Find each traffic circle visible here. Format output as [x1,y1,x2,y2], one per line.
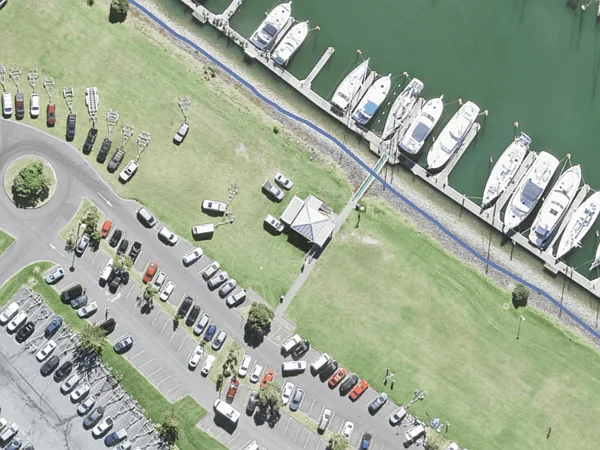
[3,155,57,209]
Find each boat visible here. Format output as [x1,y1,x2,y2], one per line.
[380,77,425,142]
[480,137,530,211]
[527,162,582,251]
[330,57,371,112]
[350,71,392,126]
[427,97,483,172]
[399,93,445,157]
[555,182,600,260]
[271,19,311,67]
[503,148,560,236]
[248,0,292,52]
[589,238,600,271]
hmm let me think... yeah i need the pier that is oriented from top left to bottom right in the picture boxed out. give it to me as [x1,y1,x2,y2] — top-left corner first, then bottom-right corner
[173,0,600,299]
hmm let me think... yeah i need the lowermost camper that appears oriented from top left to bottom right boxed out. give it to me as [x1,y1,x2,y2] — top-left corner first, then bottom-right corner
[212,399,241,422]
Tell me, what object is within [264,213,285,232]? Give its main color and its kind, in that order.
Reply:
white vehicle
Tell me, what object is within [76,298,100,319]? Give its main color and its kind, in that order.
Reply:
white vehicle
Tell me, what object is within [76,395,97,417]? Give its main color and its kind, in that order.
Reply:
white truck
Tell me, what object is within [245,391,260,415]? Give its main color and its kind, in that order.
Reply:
gray car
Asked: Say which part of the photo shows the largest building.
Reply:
center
